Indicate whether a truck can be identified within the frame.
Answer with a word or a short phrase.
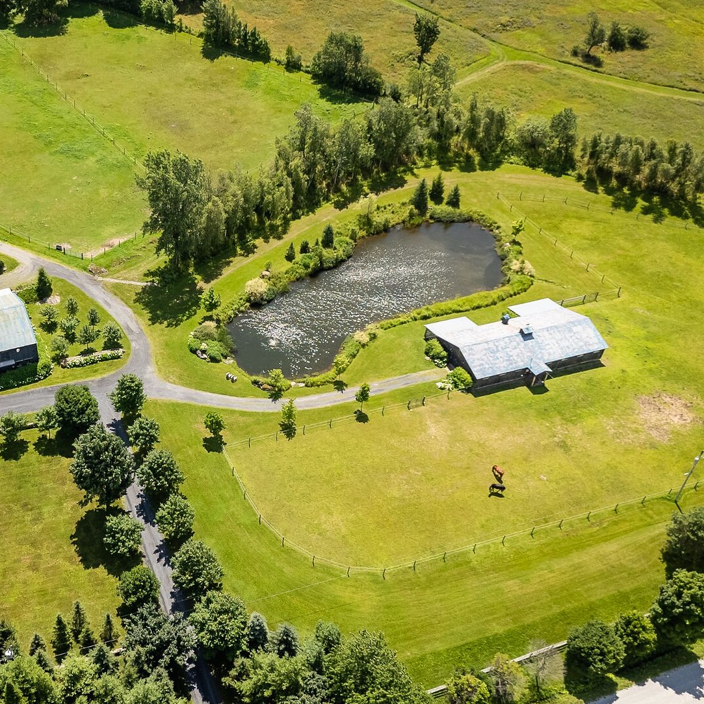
No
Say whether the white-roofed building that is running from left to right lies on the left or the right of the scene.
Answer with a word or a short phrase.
right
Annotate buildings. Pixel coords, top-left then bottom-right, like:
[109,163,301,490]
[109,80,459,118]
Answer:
[0,288,38,374]
[424,298,609,391]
